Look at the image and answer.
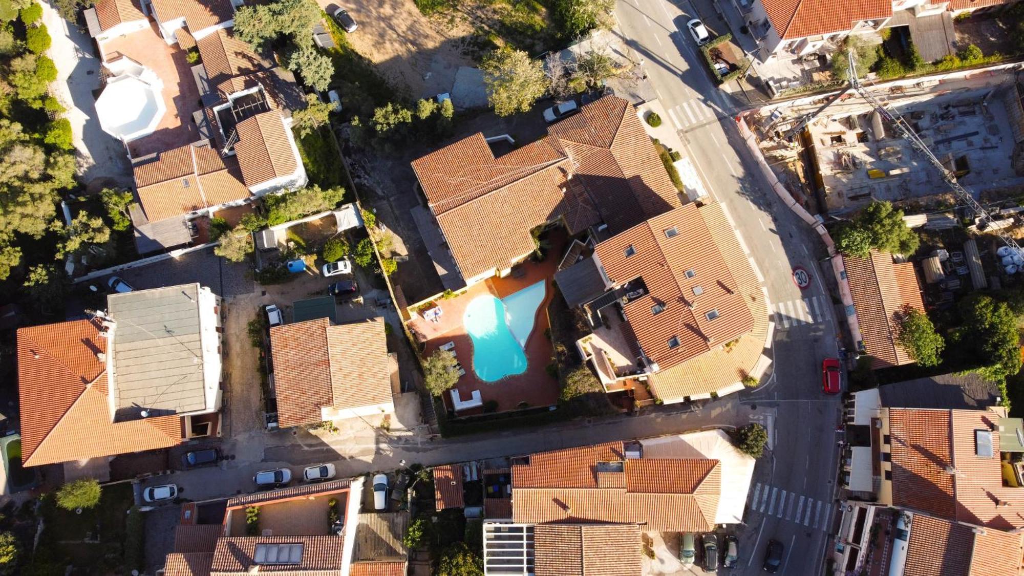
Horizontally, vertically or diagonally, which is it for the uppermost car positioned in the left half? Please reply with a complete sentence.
The uppermost car positioned in the left half runs diagonally in the image.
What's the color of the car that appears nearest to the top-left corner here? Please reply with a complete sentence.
The car that appears nearest to the top-left corner looks blue in the image.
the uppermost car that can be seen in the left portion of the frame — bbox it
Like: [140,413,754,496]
[331,6,360,37]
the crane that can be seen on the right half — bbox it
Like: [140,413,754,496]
[765,53,1024,265]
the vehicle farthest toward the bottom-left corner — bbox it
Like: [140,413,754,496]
[143,483,179,503]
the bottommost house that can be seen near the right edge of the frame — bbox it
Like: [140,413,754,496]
[885,511,1022,576]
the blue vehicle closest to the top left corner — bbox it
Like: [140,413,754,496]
[104,273,140,293]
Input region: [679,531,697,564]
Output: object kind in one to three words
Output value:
car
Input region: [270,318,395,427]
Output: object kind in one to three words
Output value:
house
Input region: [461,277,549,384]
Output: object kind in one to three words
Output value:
swimming pool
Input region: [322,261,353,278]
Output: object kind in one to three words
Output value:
car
